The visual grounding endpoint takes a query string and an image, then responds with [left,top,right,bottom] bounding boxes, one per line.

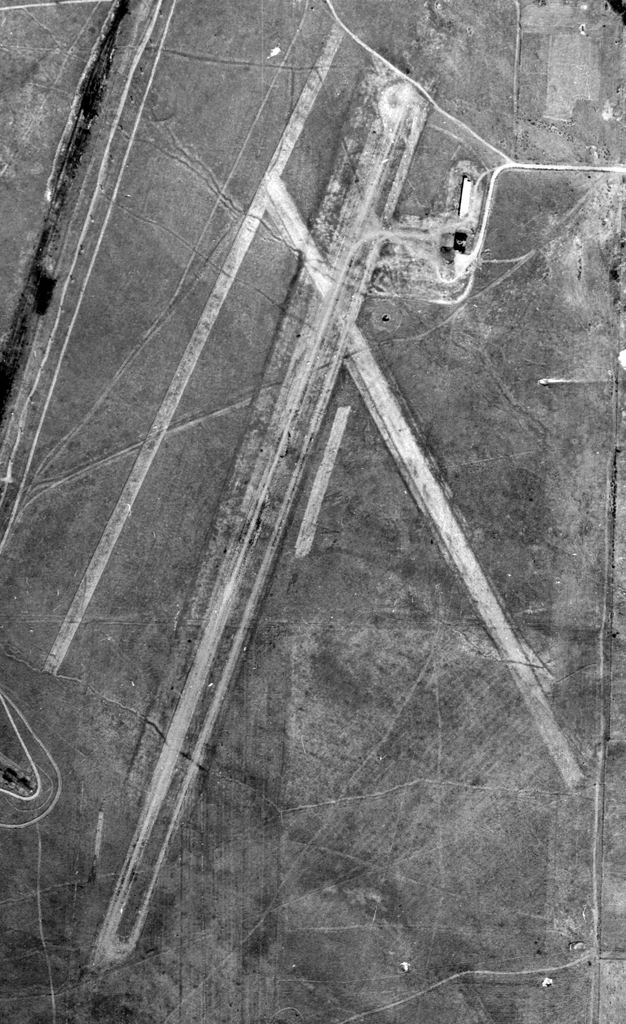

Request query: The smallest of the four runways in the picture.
[260,173,334,293]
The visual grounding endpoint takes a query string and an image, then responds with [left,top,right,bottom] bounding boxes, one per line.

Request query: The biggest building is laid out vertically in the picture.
[460,176,472,215]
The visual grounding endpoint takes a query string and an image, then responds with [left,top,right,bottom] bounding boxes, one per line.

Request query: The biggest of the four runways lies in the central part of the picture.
[93,79,428,963]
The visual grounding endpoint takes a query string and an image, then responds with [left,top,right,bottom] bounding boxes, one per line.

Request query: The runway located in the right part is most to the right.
[349,324,587,789]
